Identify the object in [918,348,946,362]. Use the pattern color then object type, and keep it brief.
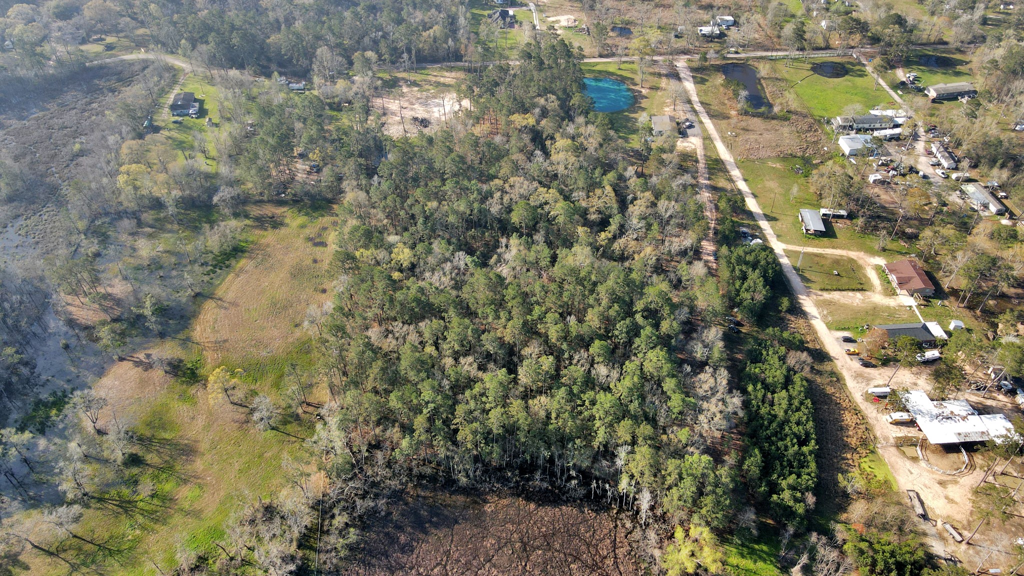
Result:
white camper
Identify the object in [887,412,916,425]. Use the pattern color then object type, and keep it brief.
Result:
white vehicle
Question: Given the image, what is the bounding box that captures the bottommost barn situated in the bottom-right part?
[894,391,1024,452]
